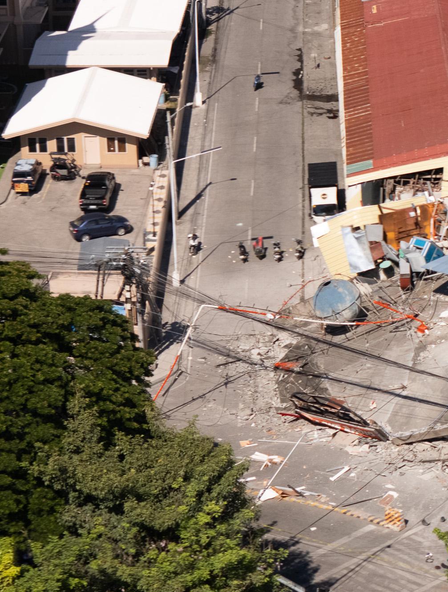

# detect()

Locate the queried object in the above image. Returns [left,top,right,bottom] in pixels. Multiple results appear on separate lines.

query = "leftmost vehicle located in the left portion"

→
[5,156,48,190]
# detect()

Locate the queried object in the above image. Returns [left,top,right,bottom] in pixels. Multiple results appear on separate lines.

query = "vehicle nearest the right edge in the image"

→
[306,175,339,225]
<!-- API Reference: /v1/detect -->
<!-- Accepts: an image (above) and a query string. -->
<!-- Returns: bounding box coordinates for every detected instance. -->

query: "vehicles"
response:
[67,206,135,234]
[238,243,251,264]
[252,240,266,261]
[48,147,77,181]
[271,244,284,264]
[75,168,122,205]
[306,175,339,225]
[293,240,306,260]
[186,236,199,256]
[251,73,262,90]
[5,156,48,190]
